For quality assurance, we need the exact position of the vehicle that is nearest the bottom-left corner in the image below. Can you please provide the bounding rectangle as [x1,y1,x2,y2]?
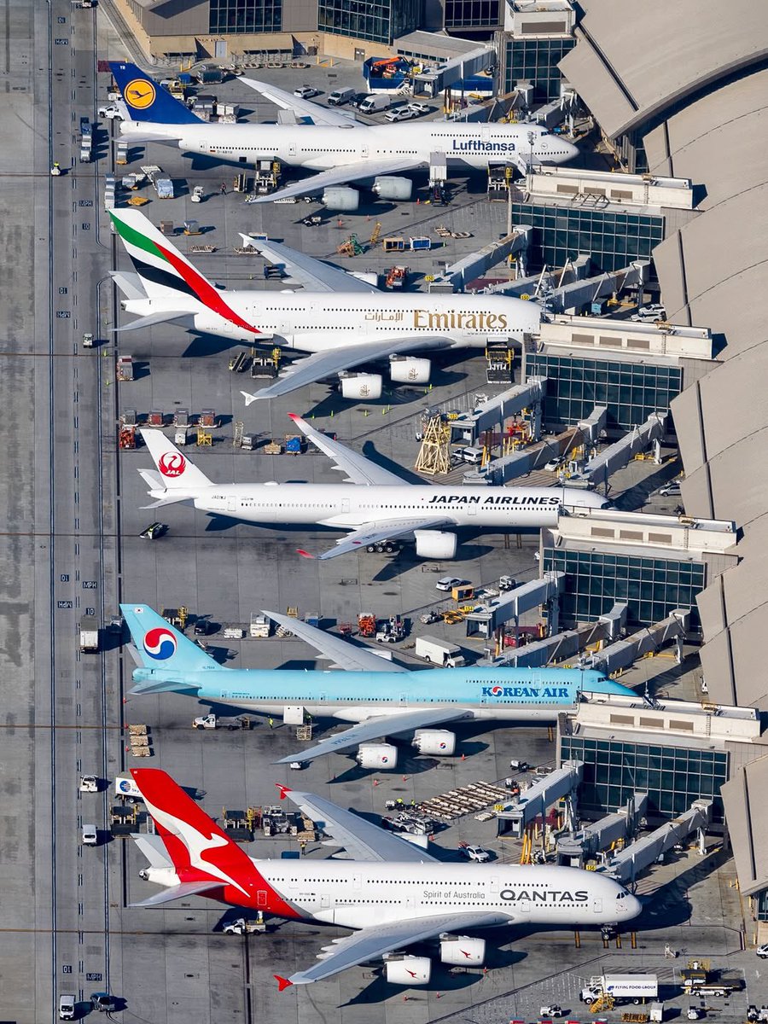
[59,989,74,1019]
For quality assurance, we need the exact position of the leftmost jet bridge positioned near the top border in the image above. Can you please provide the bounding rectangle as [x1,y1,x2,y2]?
[410,46,486,120]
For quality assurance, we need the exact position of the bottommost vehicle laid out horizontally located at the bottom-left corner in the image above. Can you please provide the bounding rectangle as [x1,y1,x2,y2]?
[83,992,124,1009]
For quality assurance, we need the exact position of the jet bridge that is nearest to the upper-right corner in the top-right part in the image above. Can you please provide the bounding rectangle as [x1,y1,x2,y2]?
[530,106,601,163]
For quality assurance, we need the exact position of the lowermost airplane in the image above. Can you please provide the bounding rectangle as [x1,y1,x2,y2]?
[130,769,639,990]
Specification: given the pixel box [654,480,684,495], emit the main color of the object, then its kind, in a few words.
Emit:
gray car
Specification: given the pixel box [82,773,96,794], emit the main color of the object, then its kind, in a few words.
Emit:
white vehicle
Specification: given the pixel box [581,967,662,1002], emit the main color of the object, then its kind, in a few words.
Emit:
white truck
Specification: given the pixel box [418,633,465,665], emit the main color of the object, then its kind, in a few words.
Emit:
white van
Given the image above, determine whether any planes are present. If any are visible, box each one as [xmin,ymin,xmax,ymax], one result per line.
[119,603,633,768]
[138,414,616,561]
[109,62,576,209]
[108,208,547,400]
[130,769,639,990]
